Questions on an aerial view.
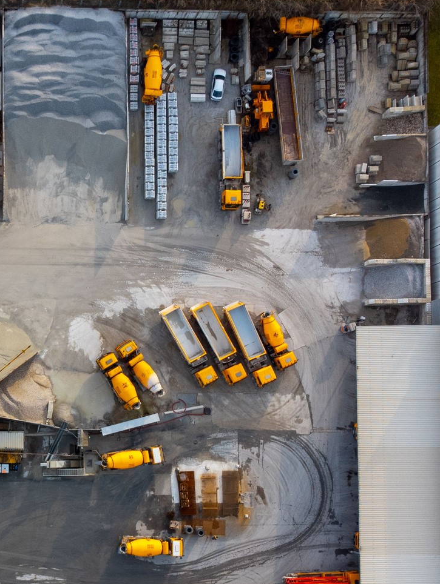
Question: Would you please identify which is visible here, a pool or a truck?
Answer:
truck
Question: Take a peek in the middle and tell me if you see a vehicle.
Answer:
Yes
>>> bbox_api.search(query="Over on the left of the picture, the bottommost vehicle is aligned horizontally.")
[114,535,185,559]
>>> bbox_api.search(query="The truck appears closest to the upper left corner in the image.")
[139,40,164,111]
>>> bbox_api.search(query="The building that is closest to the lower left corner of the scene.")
[0,432,24,450]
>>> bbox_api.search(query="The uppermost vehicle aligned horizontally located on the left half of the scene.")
[96,441,167,469]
